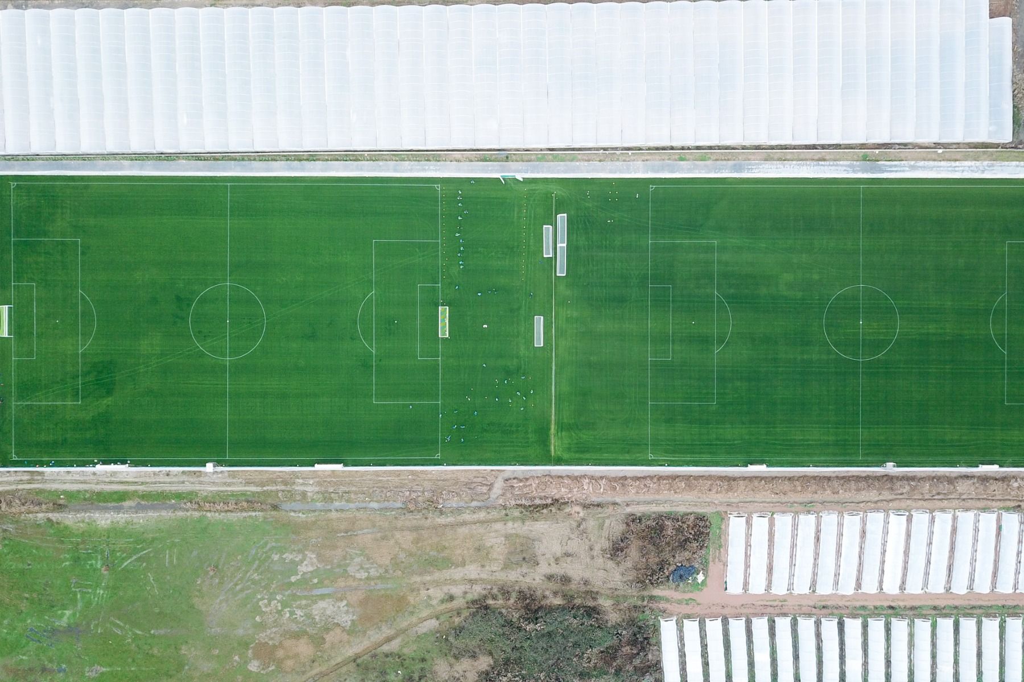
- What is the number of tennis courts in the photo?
0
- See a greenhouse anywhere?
Yes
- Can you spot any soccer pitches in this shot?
Yes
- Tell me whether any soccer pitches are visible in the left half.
Yes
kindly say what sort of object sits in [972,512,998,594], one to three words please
greenhouse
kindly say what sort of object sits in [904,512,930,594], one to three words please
greenhouse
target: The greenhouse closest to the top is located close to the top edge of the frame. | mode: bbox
[0,0,1012,154]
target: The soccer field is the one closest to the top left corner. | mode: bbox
[10,184,440,458]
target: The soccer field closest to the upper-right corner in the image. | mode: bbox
[649,186,1024,459]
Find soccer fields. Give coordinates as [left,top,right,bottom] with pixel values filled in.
[649,186,1024,459]
[10,184,440,458]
